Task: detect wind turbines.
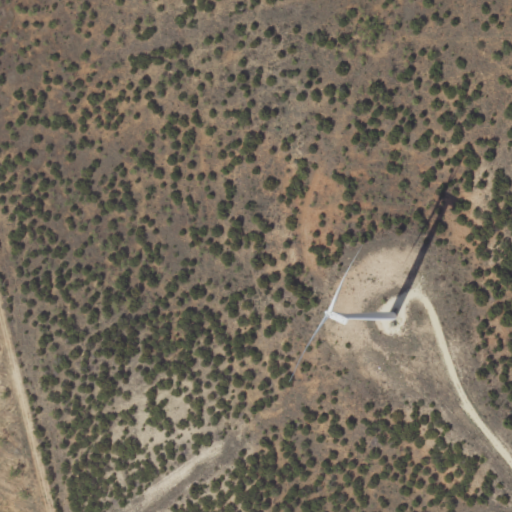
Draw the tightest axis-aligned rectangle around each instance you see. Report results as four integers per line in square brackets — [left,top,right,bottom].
[292,248,403,379]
